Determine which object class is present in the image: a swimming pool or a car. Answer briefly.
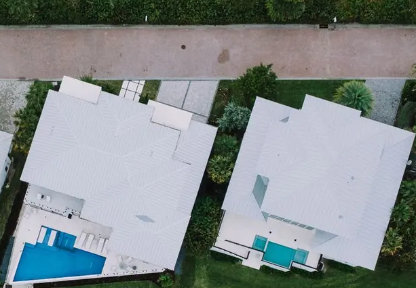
swimming pool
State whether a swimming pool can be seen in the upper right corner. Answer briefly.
No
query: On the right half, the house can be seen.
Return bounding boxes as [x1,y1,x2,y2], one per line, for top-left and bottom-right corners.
[223,94,413,270]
